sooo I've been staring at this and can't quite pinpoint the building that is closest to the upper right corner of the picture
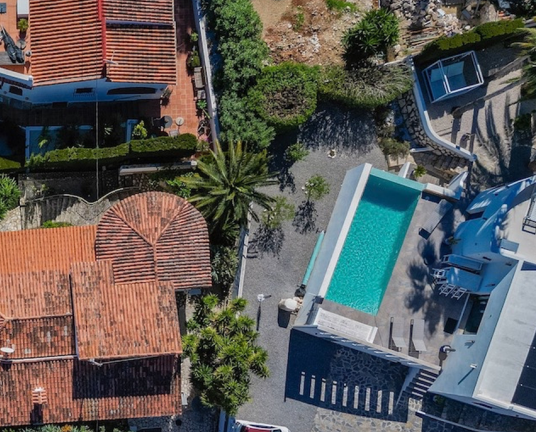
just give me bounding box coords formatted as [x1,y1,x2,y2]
[426,47,498,99]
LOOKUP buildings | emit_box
[433,173,536,416]
[0,190,213,429]
[0,0,177,100]
[426,47,498,99]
